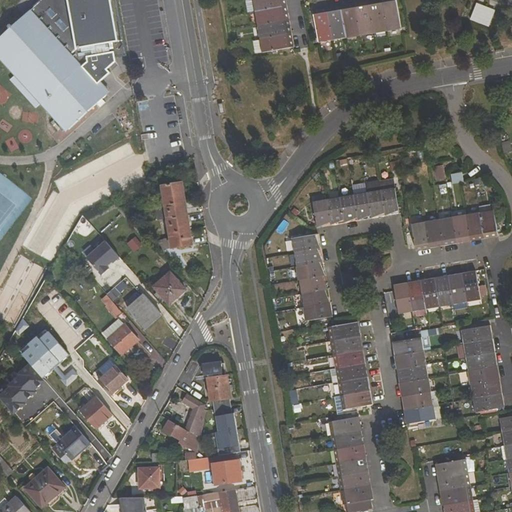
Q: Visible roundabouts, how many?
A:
1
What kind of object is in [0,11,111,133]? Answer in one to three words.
building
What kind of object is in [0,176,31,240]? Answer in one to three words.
tennis court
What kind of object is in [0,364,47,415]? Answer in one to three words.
house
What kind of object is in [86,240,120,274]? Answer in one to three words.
house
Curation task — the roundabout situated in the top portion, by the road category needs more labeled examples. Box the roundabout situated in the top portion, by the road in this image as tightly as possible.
[208,175,268,234]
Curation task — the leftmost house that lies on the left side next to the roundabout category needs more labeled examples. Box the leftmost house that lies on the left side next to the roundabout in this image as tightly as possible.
[160,180,194,250]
